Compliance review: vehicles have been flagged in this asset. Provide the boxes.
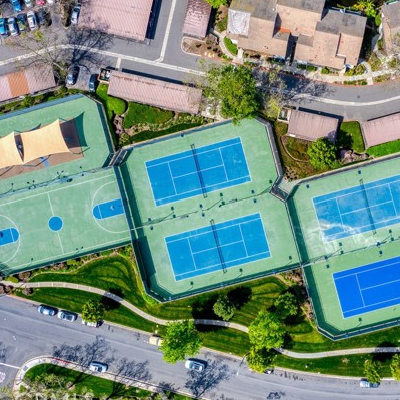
[16,12,29,34]
[23,0,34,11]
[35,0,46,9]
[46,0,57,7]
[88,73,99,94]
[36,8,49,29]
[36,304,57,316]
[67,64,81,86]
[58,310,76,321]
[70,6,81,25]
[359,378,379,388]
[89,360,110,372]
[26,10,39,31]
[186,358,206,371]
[80,316,101,328]
[7,17,20,38]
[146,334,168,348]
[0,17,10,38]
[10,0,24,12]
